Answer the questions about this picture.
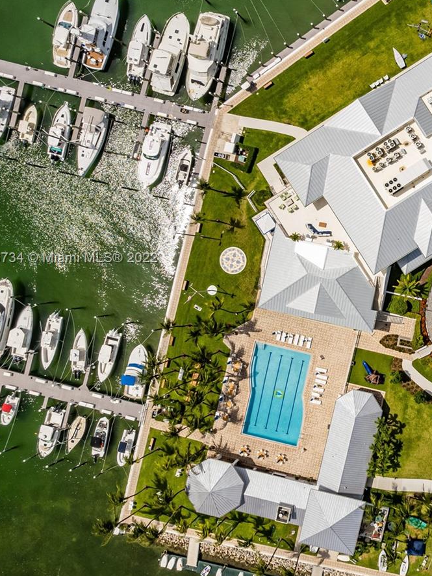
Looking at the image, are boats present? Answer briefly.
Yes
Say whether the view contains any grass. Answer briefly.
Yes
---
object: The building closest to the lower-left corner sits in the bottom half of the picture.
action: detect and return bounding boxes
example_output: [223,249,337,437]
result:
[185,458,240,519]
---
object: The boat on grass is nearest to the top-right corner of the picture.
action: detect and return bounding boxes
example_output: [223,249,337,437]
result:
[392,47,406,68]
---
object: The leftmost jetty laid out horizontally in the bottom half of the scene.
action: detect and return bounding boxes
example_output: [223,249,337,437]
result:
[0,366,147,422]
